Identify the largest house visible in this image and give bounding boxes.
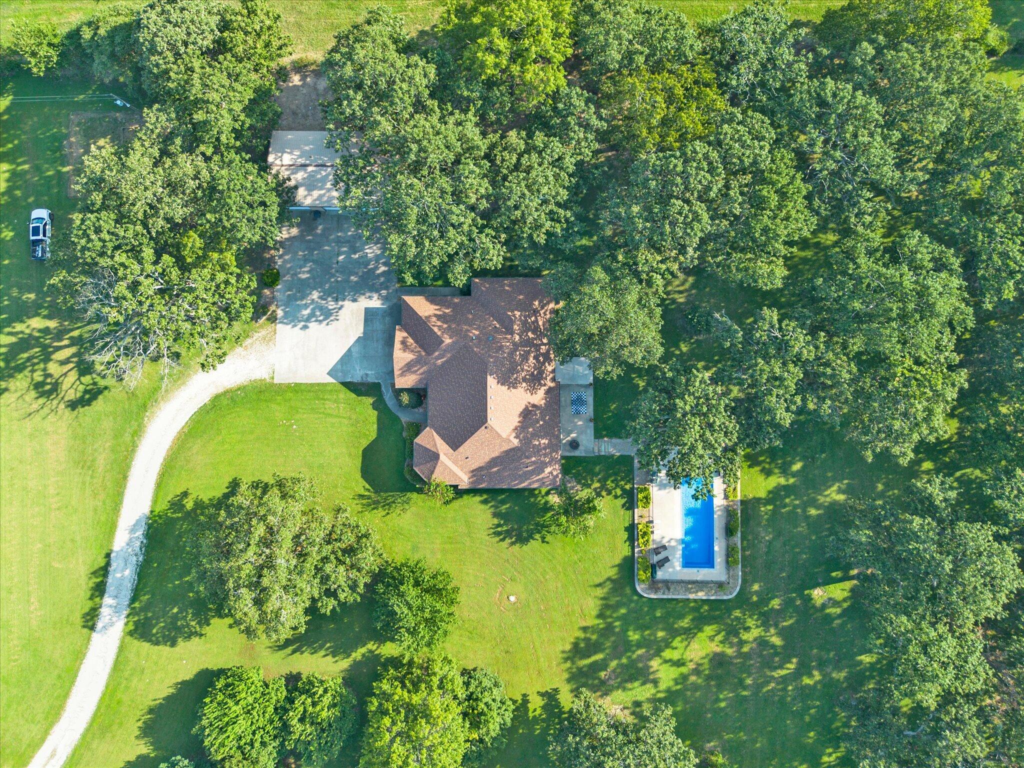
[392,277,561,489]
